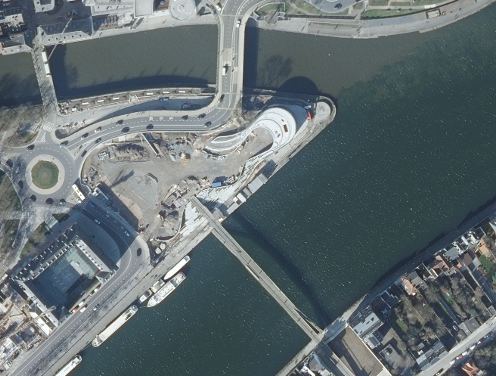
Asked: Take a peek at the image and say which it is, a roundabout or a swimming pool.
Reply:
roundabout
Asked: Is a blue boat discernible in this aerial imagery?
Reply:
No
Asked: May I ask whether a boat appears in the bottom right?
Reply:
No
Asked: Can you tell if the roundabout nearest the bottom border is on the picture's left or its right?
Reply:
left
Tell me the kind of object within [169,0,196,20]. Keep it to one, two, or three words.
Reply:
building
